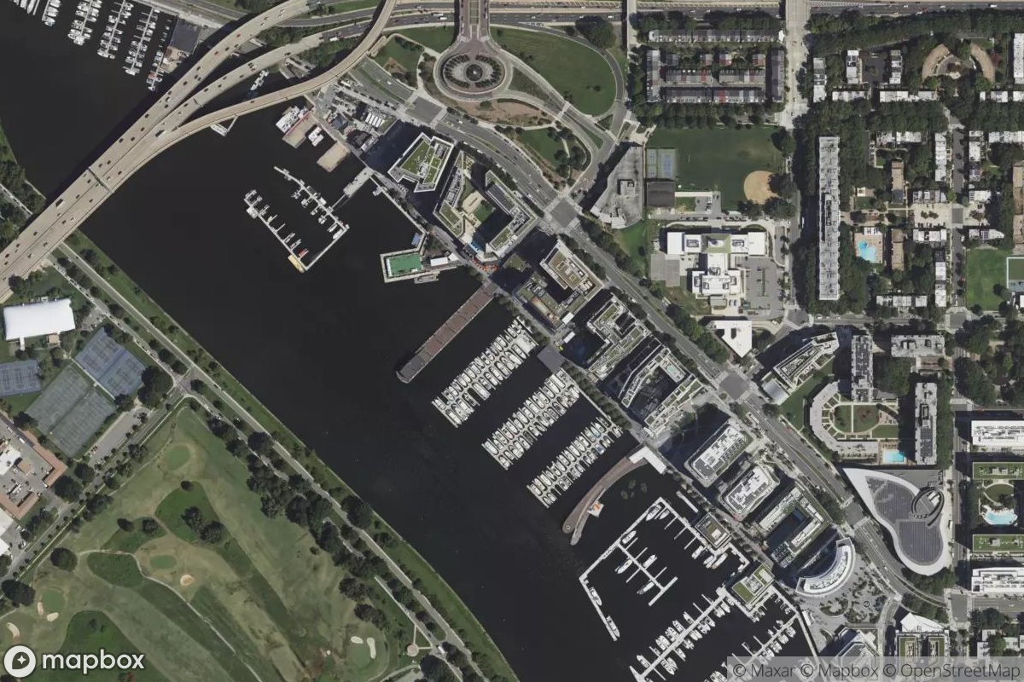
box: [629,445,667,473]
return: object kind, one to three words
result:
house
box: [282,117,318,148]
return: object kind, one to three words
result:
pier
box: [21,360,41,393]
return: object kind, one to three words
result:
tennis court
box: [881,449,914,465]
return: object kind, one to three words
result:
swimming pool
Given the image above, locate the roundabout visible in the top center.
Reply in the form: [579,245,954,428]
[433,39,509,102]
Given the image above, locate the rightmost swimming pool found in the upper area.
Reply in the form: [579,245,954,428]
[854,233,883,263]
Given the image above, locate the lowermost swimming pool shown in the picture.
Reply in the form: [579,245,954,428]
[981,505,1019,525]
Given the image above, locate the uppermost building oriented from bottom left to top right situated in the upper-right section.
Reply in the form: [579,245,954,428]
[921,43,952,85]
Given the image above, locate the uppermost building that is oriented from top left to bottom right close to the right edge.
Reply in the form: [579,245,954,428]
[968,42,995,84]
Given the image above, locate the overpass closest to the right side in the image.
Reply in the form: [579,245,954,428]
[786,0,810,24]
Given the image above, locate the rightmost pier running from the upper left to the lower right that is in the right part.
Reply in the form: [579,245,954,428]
[665,492,749,568]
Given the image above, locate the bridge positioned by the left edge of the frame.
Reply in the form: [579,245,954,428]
[0,0,396,303]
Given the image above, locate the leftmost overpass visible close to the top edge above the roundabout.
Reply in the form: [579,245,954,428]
[458,0,491,39]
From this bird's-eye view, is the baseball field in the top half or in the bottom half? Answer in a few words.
top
